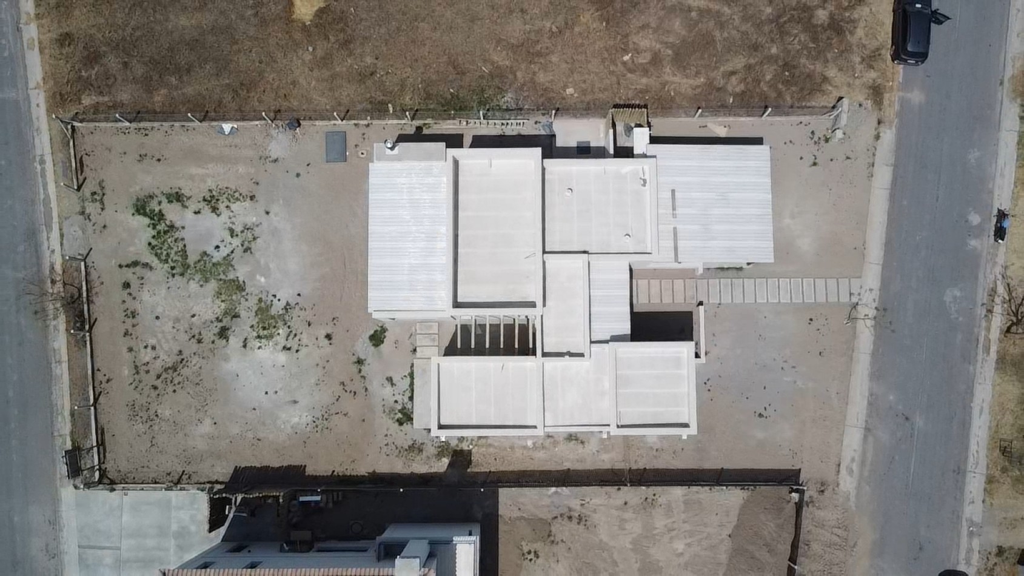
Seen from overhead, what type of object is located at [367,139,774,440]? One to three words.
house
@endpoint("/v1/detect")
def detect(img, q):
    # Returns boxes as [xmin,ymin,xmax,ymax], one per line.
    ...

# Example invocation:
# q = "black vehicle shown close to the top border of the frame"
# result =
[890,0,947,63]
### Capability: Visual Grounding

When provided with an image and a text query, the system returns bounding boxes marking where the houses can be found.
[170,521,481,576]
[367,139,774,440]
